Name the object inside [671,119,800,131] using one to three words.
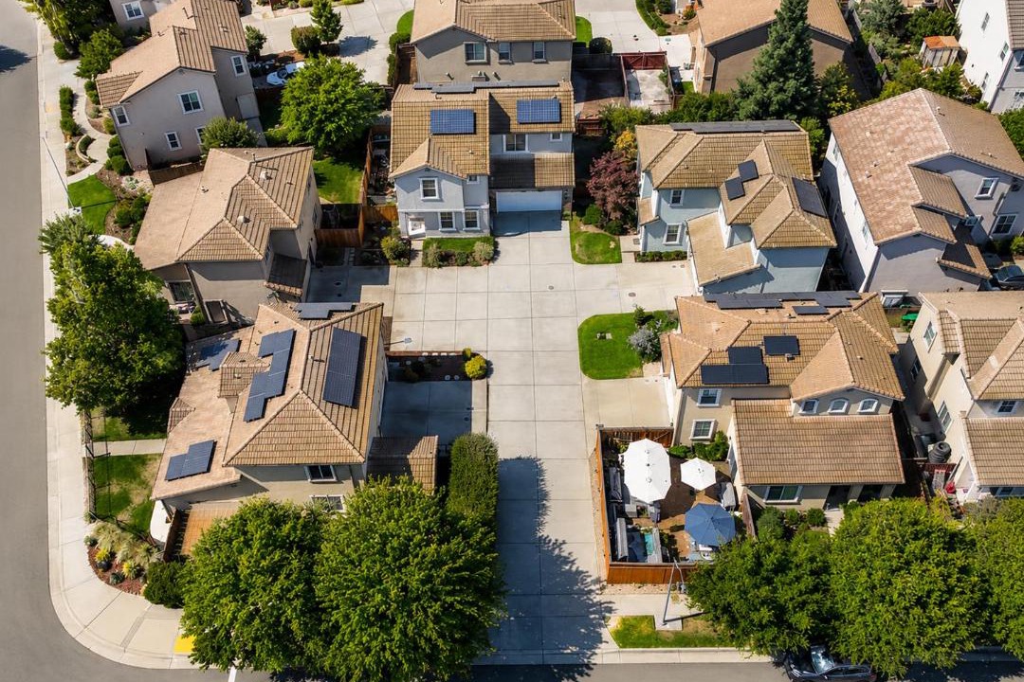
solar panel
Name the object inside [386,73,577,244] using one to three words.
house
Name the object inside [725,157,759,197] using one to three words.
solar panel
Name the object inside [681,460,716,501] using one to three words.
umbrella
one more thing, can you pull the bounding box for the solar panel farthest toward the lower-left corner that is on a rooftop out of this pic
[165,437,214,478]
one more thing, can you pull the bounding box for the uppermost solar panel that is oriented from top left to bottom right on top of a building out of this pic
[793,174,824,213]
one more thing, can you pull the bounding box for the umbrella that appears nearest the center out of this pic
[624,439,671,504]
